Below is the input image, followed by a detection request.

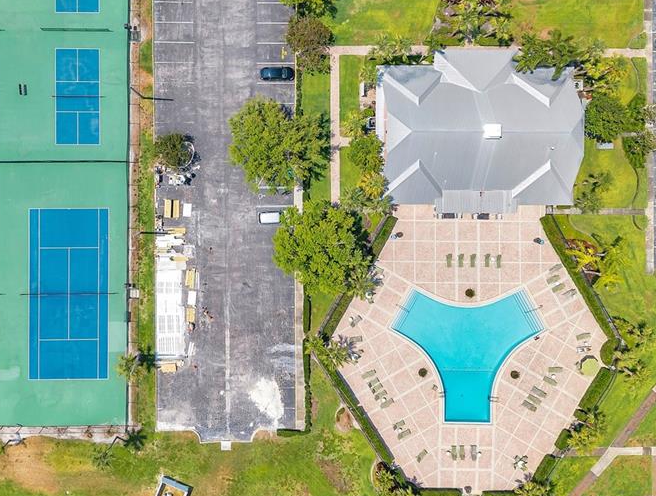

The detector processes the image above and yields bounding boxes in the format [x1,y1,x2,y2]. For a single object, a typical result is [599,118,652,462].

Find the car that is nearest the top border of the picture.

[261,64,295,81]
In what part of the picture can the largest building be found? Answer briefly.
top right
